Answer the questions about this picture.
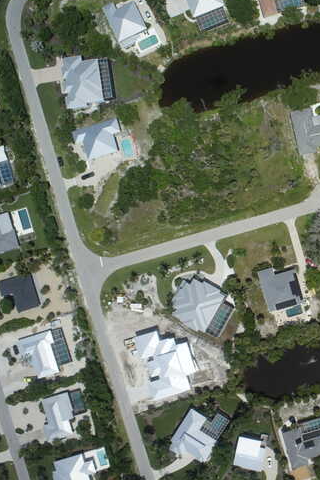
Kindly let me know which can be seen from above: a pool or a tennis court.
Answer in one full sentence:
I can see a pool in this picture.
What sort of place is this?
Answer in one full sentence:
This looks like a residential area.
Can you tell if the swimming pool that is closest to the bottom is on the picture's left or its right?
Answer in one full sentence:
The swimming pool that is closest to the bottom is on the left side of the image.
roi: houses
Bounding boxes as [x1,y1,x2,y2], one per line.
[188,0,229,33]
[258,268,303,311]
[62,56,118,108]
[234,432,266,471]
[72,118,122,159]
[170,407,231,462]
[103,1,148,50]
[54,451,100,480]
[259,0,303,18]
[282,418,320,471]
[136,328,200,401]
[43,388,88,442]
[0,146,17,186]
[19,326,75,378]
[0,274,43,312]
[173,279,236,336]
[0,212,36,253]
[290,108,320,156]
